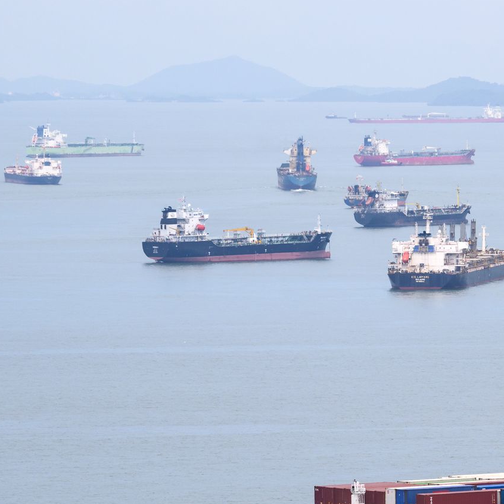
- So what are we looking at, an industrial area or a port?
port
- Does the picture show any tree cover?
No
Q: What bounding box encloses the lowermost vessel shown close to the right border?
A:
[392,216,504,288]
